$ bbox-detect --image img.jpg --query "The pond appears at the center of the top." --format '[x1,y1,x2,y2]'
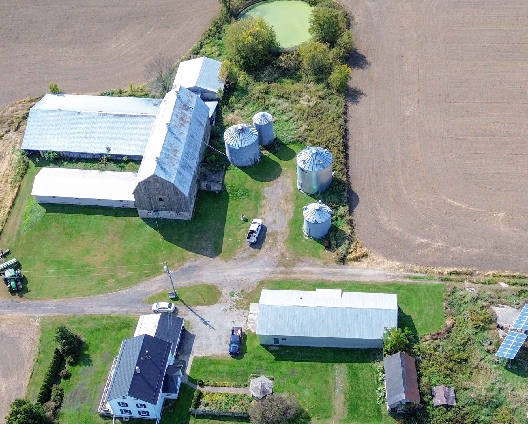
[243,1,314,47]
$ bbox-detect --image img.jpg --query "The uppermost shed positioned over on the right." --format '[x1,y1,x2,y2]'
[258,289,397,349]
